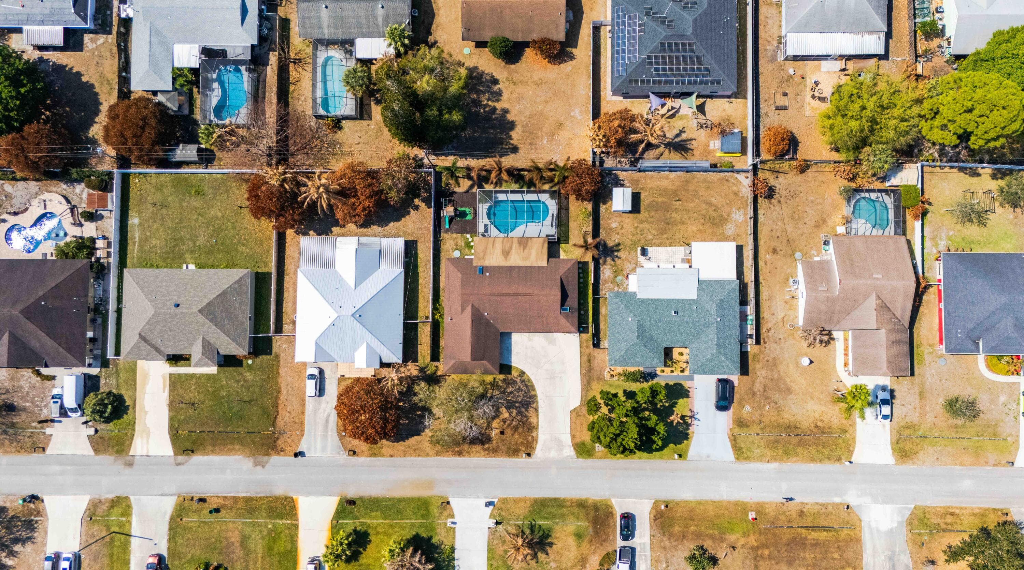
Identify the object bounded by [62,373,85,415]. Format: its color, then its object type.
white vehicle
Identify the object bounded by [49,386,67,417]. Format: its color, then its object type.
white car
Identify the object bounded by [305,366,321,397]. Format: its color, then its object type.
white car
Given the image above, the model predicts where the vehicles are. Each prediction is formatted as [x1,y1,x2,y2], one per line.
[307,559,321,570]
[49,386,67,417]
[616,544,631,570]
[44,550,62,570]
[145,552,163,570]
[64,550,80,570]
[876,390,893,423]
[618,511,633,541]
[62,373,85,415]
[305,366,321,397]
[715,377,731,411]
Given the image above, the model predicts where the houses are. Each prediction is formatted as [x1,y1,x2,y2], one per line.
[607,242,741,376]
[121,268,254,368]
[111,0,262,92]
[443,237,578,375]
[461,0,566,45]
[0,0,99,50]
[795,235,916,377]
[297,0,413,59]
[937,252,1024,355]
[0,259,97,369]
[295,236,406,369]
[780,0,888,60]
[610,0,738,94]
